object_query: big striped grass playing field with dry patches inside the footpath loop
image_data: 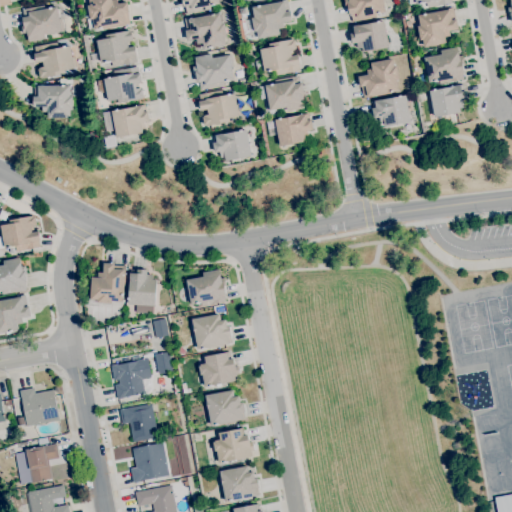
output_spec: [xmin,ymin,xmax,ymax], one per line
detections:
[275,268,458,512]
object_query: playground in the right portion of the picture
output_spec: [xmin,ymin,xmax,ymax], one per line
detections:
[443,282,512,512]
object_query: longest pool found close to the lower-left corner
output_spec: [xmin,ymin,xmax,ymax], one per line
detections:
[38,422,60,435]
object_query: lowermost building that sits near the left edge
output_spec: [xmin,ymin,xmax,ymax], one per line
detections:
[24,484,70,512]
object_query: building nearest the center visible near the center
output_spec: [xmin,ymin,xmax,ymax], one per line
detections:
[188,269,229,307]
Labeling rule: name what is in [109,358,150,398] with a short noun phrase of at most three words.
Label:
house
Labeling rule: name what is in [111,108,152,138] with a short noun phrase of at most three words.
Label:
house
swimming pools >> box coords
[178,500,188,512]
[38,422,60,435]
[216,304,227,314]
